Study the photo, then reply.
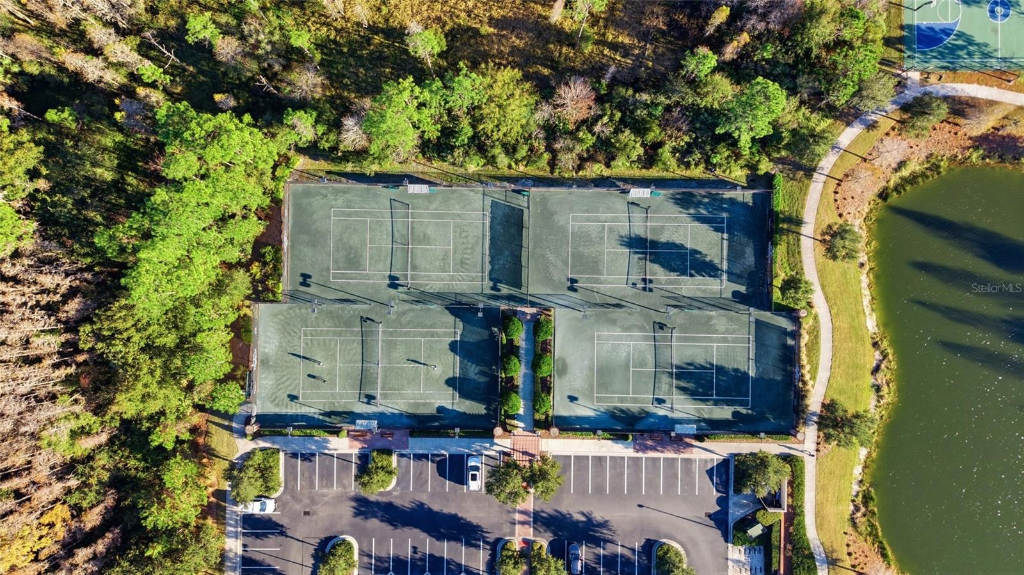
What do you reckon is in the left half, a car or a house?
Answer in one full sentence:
The feature located in the left half is a car.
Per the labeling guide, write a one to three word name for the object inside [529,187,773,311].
tennis court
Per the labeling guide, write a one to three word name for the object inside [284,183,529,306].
tennis court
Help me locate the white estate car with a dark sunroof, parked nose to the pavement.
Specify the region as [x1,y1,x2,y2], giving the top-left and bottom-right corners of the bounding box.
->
[466,457,482,491]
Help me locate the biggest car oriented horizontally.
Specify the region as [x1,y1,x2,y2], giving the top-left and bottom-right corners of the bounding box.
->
[241,500,274,516]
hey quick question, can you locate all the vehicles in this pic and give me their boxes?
[568,544,584,575]
[466,457,482,491]
[241,500,274,516]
